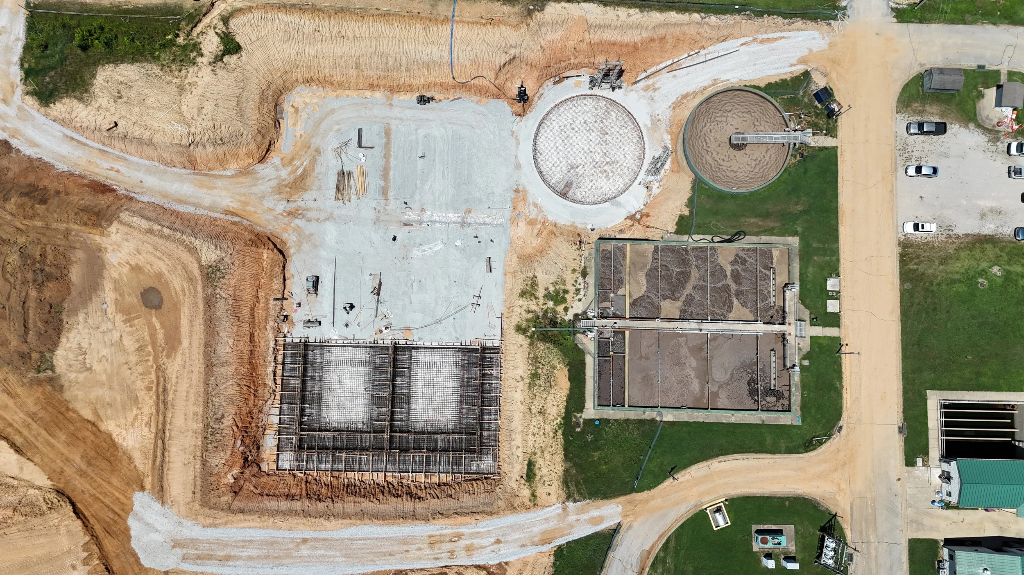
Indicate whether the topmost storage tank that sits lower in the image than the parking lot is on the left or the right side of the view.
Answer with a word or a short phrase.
right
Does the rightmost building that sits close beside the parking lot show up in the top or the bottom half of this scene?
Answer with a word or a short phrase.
top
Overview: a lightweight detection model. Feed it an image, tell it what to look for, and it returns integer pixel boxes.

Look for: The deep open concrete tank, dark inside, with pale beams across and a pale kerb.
[938,400,1024,458]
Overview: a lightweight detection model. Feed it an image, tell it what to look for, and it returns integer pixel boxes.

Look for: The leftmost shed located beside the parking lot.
[921,68,968,93]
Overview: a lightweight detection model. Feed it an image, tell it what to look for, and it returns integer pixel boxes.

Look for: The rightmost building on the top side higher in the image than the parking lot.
[985,78,1024,111]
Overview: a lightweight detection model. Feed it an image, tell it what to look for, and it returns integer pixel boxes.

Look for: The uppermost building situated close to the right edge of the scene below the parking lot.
[936,457,1024,508]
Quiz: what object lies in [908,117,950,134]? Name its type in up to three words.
vehicle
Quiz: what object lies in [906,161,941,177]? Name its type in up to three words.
car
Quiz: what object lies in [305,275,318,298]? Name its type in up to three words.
vehicle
